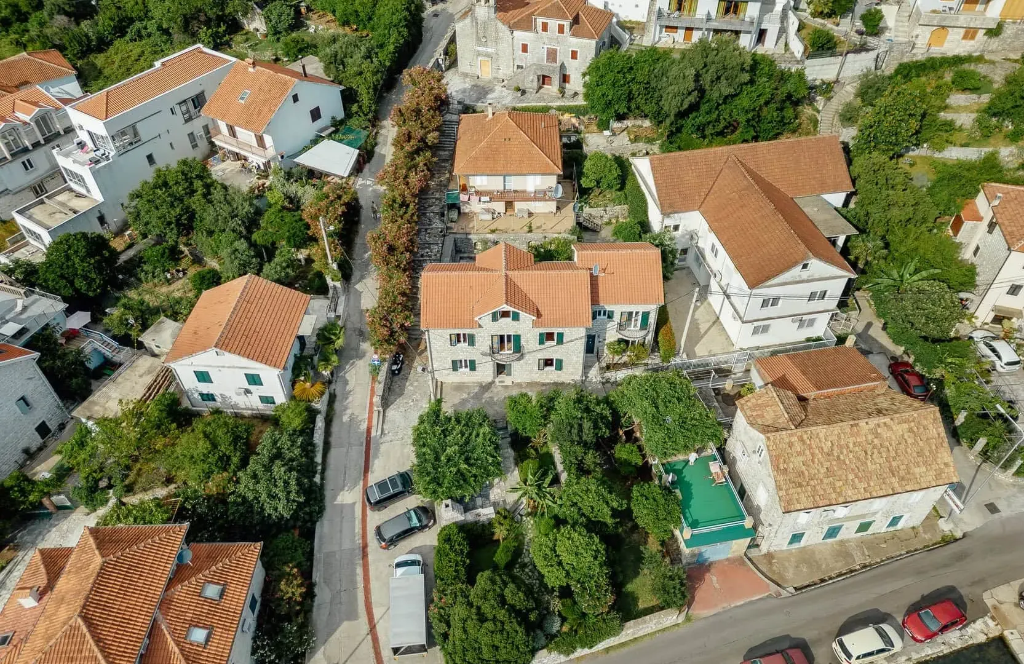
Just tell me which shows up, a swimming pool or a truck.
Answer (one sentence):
It is a truck that can be seen here.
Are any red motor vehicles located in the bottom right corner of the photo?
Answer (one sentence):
Yes, a red motor vehicle appears in the bottom right corner of the photo.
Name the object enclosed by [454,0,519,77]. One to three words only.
building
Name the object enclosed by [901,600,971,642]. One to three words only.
car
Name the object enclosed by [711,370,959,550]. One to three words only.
house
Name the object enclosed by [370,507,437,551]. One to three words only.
car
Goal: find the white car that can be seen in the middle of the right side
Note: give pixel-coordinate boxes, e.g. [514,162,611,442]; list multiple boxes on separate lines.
[970,329,1024,376]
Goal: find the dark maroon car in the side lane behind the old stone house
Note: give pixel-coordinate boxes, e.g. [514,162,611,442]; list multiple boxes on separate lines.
[888,358,934,404]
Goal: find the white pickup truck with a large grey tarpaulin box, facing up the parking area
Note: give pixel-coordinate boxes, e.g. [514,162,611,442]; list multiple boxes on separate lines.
[387,554,428,658]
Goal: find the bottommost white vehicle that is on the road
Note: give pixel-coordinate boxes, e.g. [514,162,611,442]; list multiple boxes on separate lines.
[830,623,905,664]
